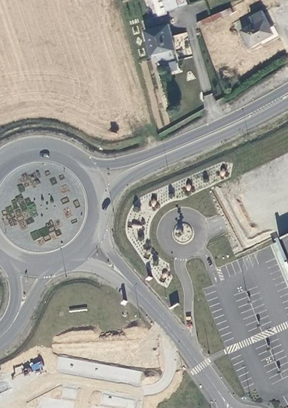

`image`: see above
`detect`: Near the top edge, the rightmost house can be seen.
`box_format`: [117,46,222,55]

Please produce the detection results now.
[236,10,282,54]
